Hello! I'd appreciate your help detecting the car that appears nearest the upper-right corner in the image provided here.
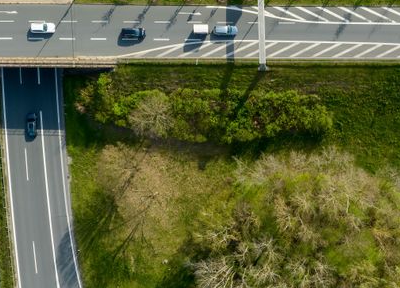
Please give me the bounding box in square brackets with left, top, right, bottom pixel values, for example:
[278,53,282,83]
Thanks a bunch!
[212,24,238,36]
